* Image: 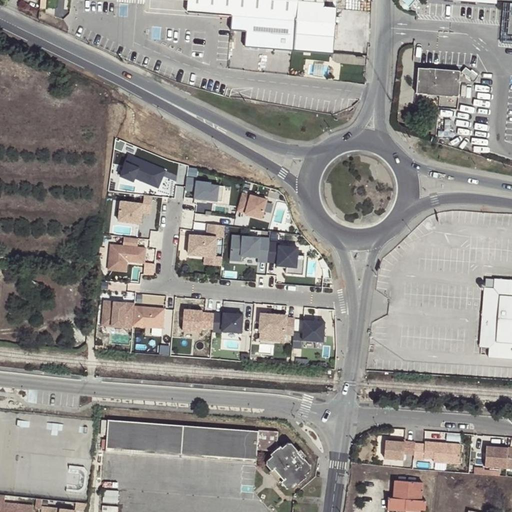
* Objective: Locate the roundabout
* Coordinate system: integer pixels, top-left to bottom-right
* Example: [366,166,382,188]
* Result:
[296,128,420,251]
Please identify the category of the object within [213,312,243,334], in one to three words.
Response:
house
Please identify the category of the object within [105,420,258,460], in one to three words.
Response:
building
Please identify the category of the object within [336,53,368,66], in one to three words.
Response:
shed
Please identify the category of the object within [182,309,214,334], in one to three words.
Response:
house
